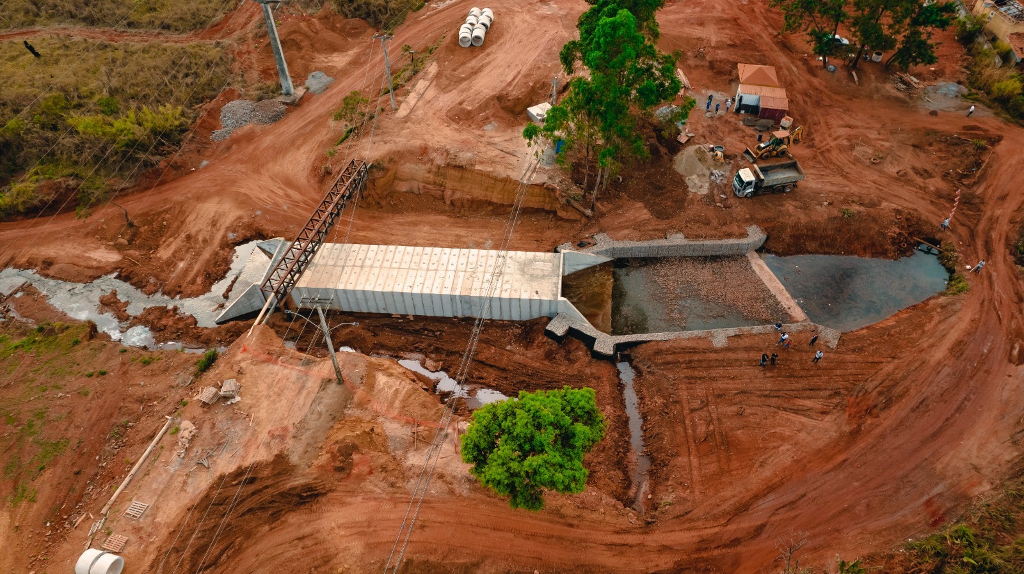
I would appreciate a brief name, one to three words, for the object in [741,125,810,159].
work vehicle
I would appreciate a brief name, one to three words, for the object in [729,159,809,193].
truck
